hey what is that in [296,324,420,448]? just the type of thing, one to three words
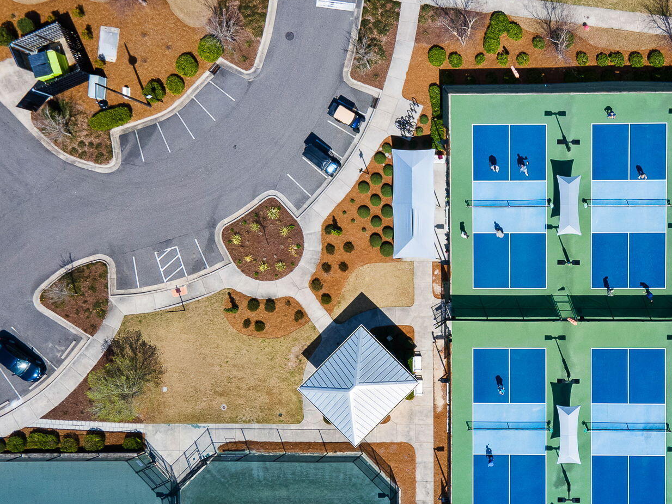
building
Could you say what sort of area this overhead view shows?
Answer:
sports ground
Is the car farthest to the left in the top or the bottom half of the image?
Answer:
bottom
